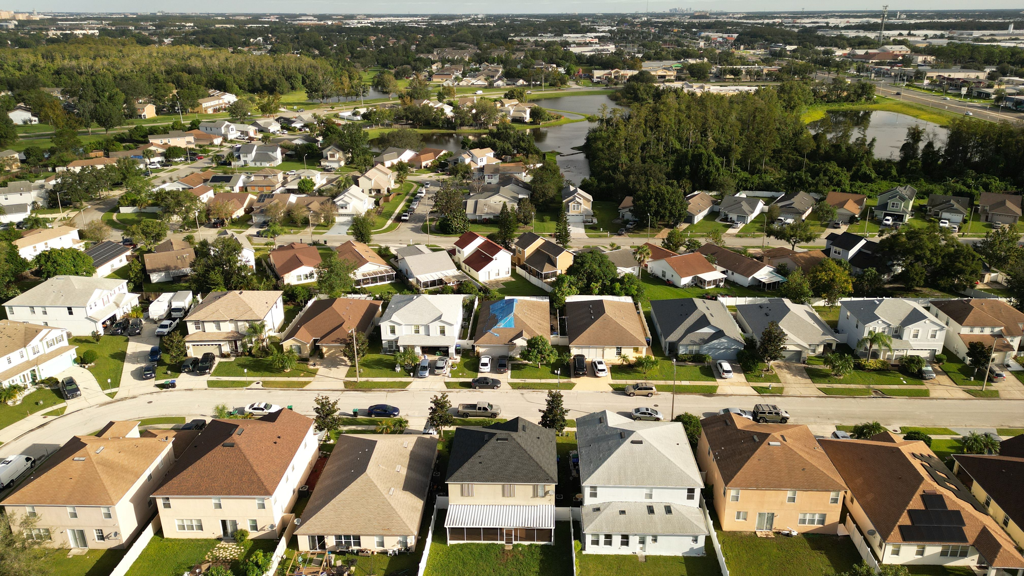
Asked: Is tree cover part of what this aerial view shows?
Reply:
Yes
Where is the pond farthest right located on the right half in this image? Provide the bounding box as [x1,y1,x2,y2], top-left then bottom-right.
[807,109,950,154]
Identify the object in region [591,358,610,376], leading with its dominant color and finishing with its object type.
white car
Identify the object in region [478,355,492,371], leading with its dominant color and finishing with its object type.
white car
